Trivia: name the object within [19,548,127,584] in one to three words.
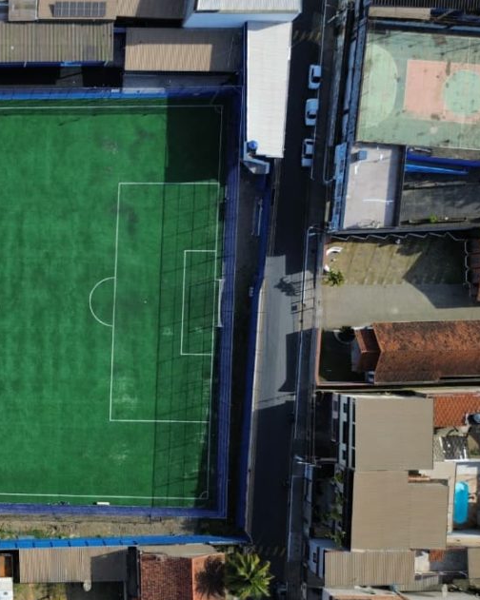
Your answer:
shed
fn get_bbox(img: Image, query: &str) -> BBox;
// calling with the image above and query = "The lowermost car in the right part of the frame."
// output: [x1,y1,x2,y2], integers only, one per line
[300,137,317,166]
